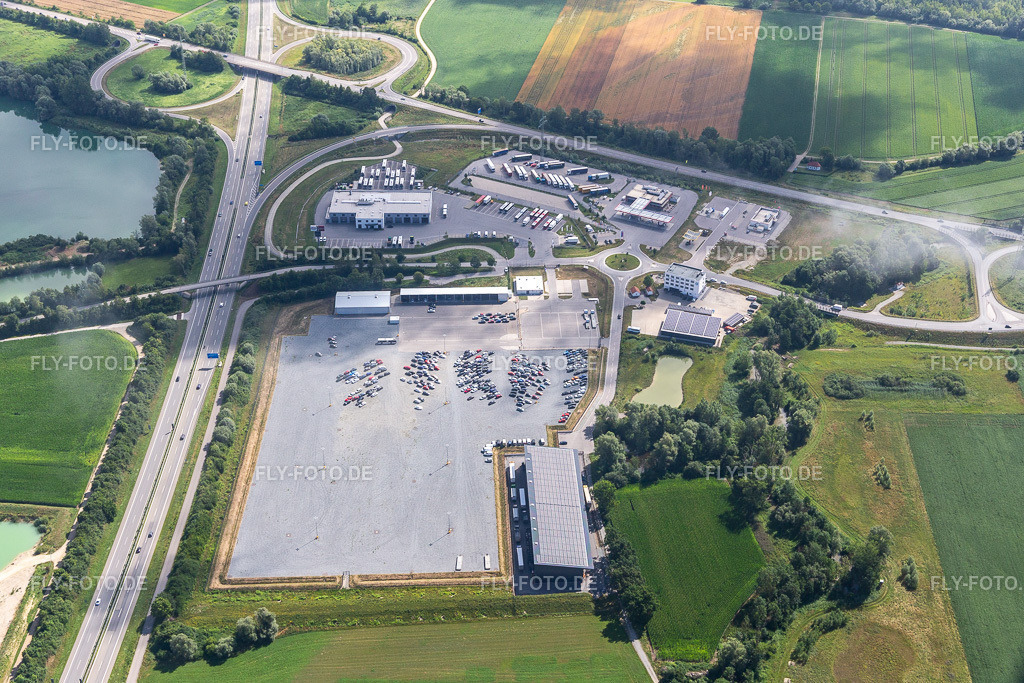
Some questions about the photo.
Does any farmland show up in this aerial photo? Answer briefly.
Yes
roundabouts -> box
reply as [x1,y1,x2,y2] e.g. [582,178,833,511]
[596,249,651,275]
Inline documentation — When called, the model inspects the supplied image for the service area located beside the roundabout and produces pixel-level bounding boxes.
[448,150,698,259]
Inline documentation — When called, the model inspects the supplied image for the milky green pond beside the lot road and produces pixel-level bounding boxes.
[631,357,692,409]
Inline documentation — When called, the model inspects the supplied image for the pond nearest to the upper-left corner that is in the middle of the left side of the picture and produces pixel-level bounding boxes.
[0,265,96,306]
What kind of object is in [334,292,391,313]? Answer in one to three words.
hangar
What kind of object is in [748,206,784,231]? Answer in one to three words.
building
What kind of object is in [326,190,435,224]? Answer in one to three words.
building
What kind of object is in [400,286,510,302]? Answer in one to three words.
shed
